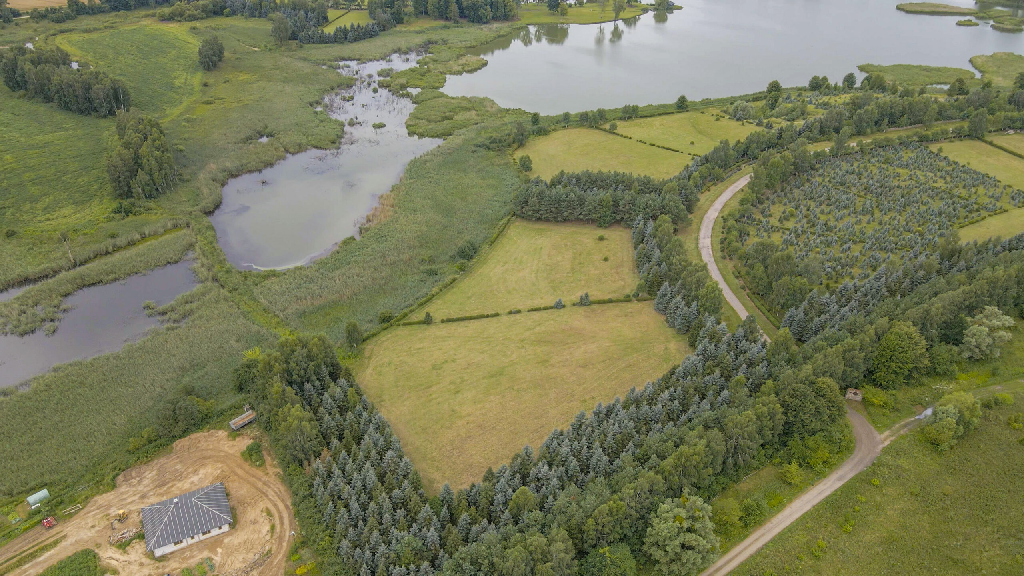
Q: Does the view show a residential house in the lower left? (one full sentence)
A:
Yes, a residential house can be seen in the lower left.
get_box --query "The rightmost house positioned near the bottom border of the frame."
[141,481,232,557]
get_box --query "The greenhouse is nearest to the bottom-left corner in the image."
[23,489,52,512]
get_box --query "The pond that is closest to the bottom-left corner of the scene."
[0,257,200,384]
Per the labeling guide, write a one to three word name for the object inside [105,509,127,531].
work vehicle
